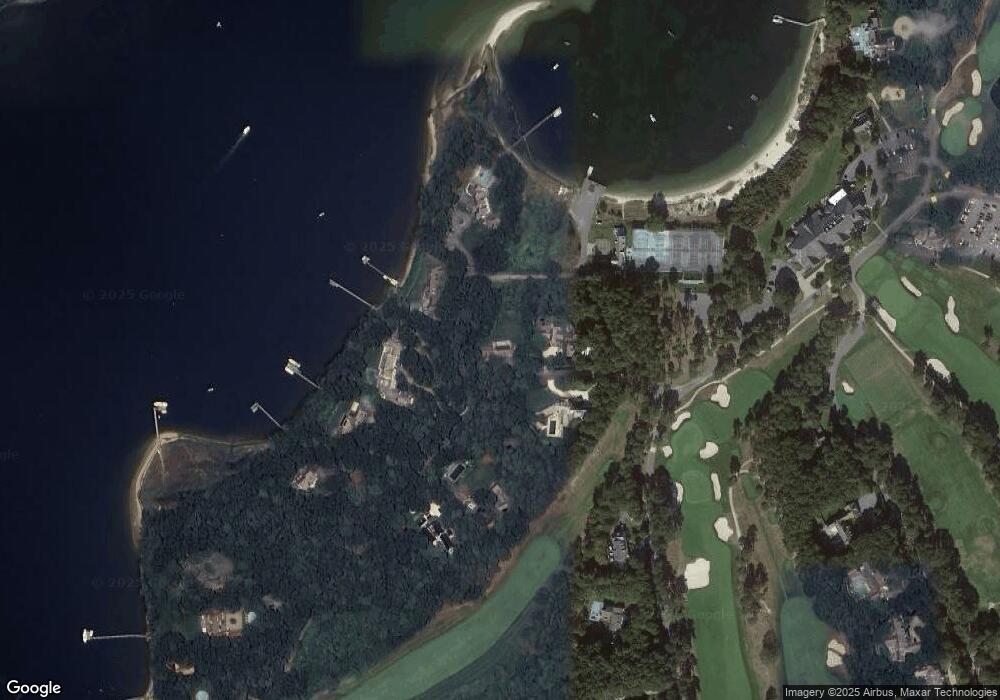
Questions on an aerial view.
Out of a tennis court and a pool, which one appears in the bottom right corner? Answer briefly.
pool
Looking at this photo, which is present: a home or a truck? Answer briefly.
home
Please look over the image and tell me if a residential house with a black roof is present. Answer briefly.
Yes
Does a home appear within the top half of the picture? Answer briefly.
Yes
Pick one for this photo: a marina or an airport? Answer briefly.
marina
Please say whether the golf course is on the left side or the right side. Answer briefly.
right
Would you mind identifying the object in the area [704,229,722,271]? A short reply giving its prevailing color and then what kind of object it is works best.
gray tennis court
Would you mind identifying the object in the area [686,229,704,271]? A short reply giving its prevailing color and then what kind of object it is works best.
gray tennis court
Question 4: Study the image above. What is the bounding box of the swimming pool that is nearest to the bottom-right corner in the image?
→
[850,573,869,597]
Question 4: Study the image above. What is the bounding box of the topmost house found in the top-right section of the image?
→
[850,17,896,61]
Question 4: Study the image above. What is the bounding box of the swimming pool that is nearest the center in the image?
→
[547,411,562,437]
